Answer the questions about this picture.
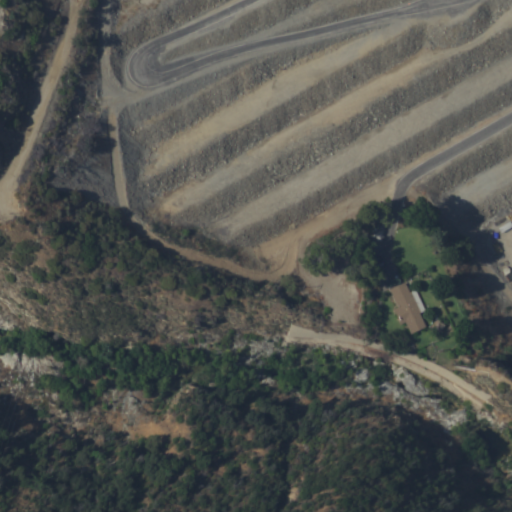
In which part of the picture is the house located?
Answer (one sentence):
The house is located in the right region of the scene.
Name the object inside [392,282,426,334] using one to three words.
house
